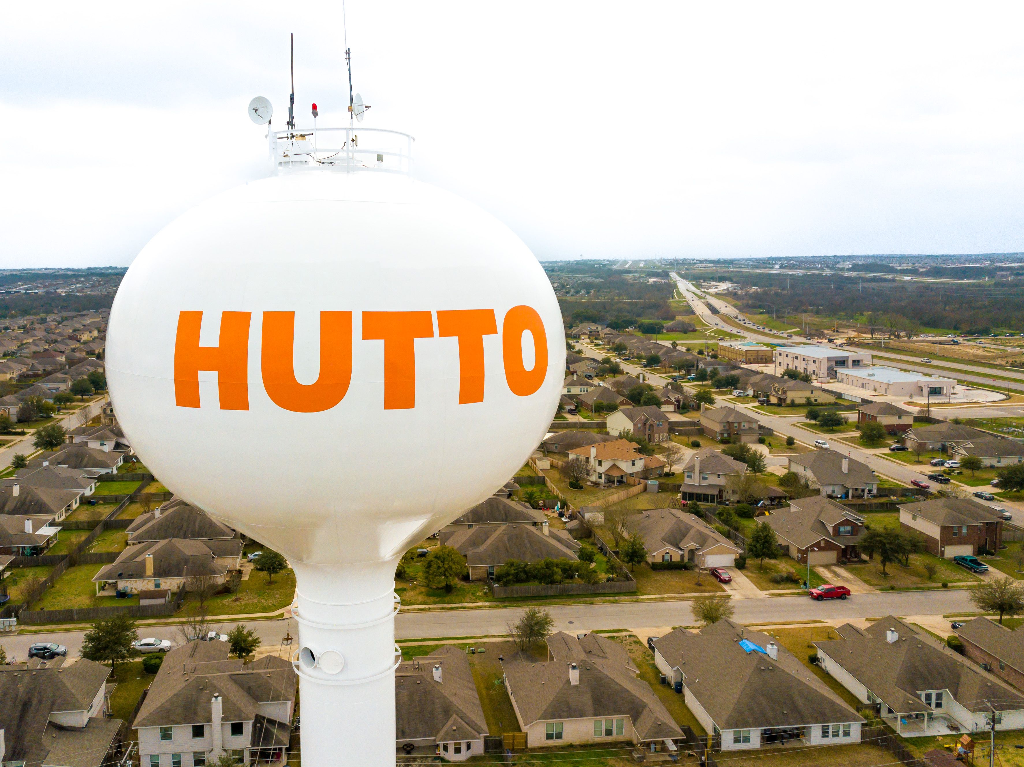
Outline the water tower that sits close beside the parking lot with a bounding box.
[105,127,565,767]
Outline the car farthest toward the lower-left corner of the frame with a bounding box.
[24,640,69,660]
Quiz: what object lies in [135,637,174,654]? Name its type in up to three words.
car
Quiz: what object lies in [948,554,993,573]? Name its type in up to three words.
vehicle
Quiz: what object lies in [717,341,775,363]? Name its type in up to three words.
building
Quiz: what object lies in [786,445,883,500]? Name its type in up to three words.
house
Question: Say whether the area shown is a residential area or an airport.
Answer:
residential area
